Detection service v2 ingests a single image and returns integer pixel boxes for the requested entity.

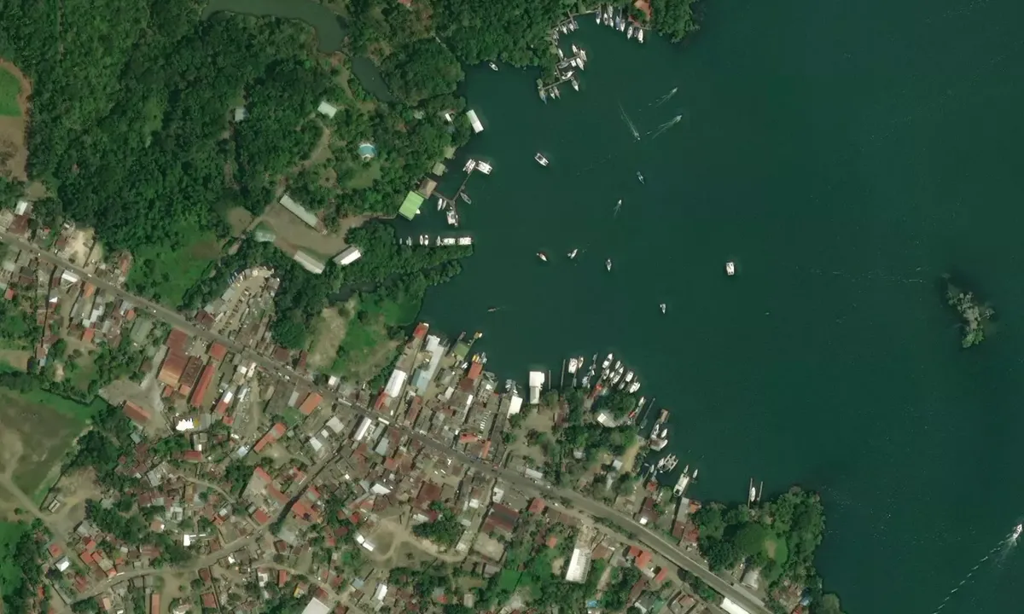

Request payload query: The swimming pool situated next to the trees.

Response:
[358,143,376,159]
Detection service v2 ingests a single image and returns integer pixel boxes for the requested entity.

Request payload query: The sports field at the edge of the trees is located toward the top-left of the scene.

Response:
[0,58,32,133]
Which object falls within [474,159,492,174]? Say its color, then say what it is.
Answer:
white boat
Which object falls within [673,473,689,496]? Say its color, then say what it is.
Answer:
white ship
